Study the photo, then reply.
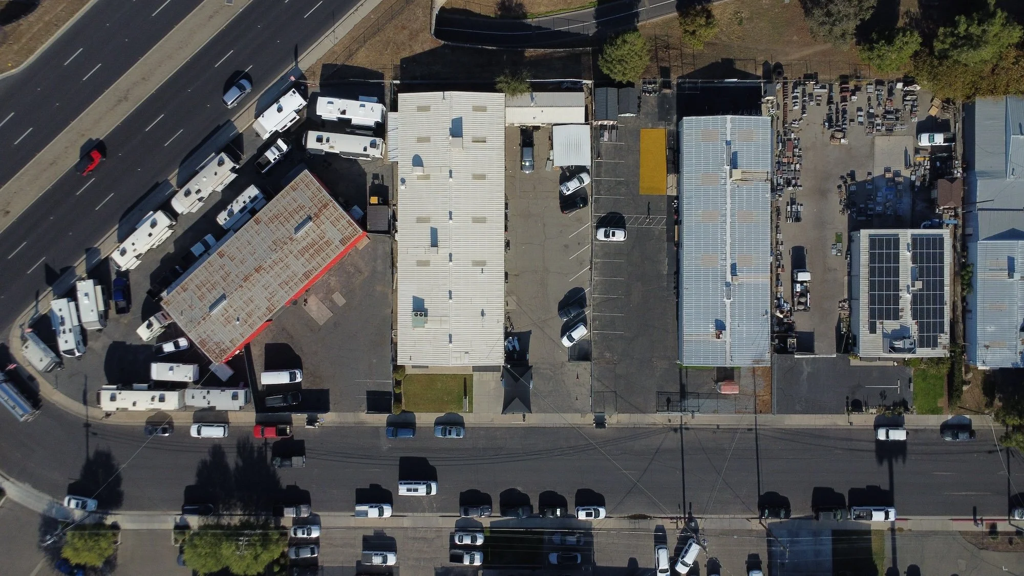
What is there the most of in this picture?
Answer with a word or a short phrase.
paved ground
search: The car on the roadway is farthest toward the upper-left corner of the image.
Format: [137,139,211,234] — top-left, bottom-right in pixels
[76,146,108,176]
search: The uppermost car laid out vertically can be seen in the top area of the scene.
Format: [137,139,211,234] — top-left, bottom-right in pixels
[519,130,536,174]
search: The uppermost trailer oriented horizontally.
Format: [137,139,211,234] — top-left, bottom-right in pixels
[317,98,389,130]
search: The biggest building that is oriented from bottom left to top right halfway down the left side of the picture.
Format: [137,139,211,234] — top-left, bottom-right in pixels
[161,166,367,365]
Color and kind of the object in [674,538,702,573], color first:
white car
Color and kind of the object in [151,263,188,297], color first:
black truck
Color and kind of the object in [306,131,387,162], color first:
white trailer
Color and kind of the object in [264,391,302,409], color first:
black vehicle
